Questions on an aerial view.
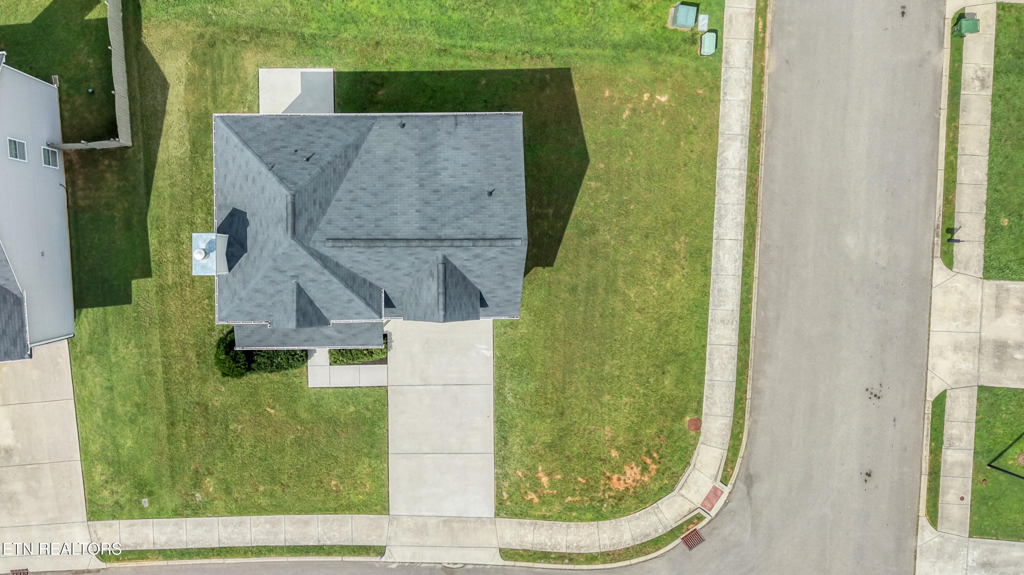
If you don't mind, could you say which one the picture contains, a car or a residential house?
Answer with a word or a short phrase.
residential house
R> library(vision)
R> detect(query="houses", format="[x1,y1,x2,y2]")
[0,52,74,363]
[193,110,529,352]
